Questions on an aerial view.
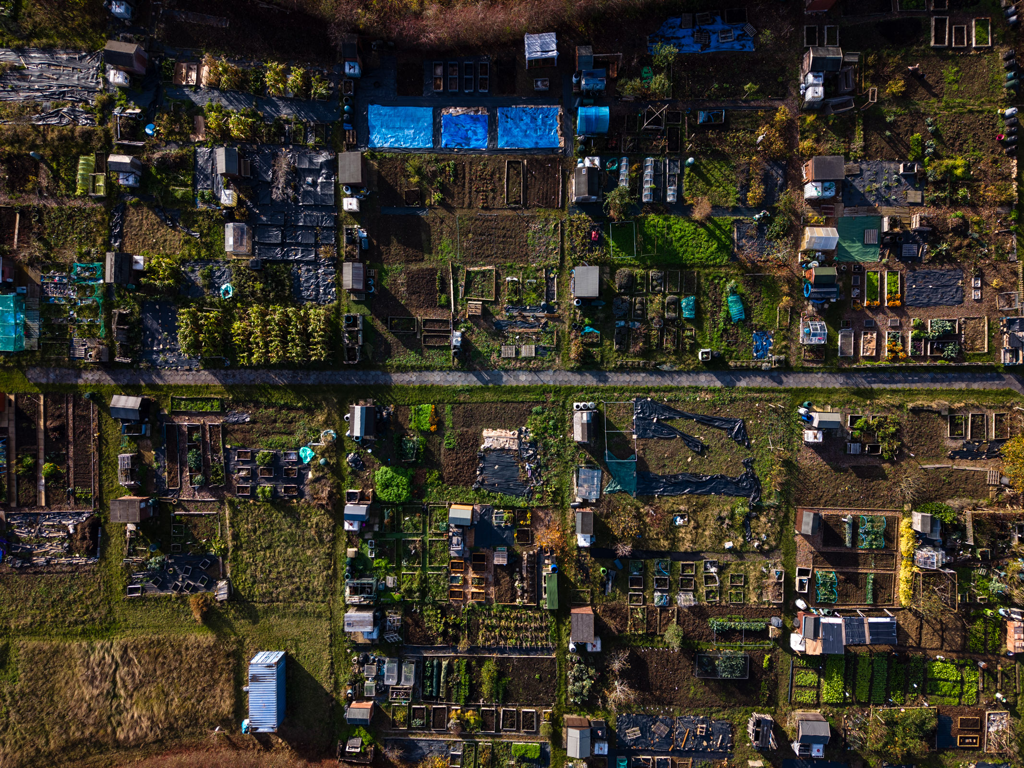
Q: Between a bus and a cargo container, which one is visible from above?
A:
cargo container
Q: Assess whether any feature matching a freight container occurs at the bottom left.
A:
Yes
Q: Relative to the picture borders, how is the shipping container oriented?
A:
from top to bottom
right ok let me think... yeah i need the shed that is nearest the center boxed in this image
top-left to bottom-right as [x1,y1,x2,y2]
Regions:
[572,411,592,442]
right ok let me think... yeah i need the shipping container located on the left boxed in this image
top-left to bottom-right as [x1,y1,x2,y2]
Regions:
[248,650,288,734]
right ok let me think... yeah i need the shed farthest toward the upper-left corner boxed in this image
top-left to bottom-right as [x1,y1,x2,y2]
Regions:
[104,42,149,77]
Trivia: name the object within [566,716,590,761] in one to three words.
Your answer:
shed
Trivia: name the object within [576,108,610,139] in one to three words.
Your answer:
greenhouse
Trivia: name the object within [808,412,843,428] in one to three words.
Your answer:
shed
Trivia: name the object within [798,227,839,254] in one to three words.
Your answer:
greenhouse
